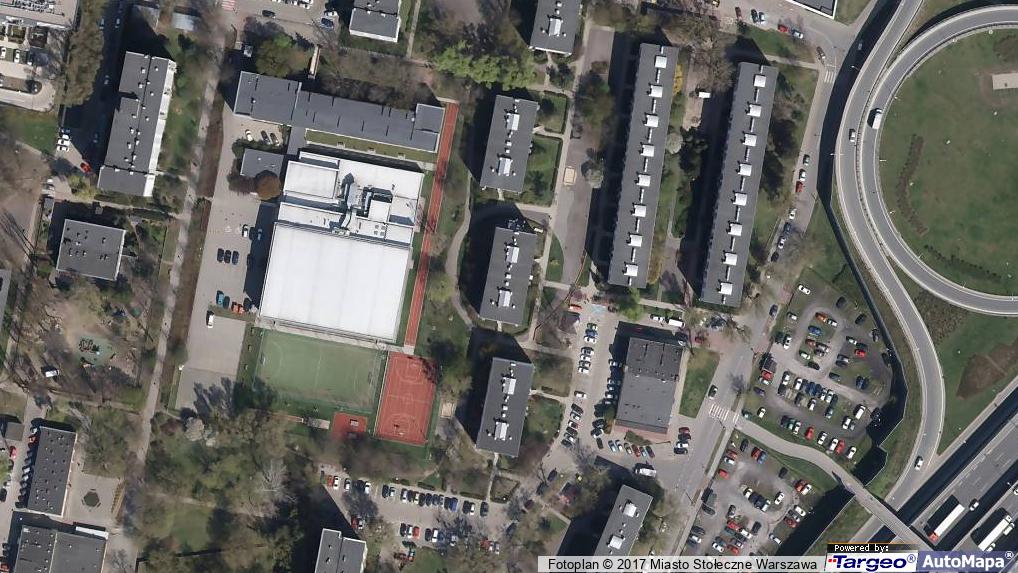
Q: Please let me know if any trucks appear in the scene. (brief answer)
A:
Yes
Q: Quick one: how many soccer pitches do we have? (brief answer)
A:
1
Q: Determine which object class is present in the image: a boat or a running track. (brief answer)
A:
running track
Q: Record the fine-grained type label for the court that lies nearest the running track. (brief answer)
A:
basketball court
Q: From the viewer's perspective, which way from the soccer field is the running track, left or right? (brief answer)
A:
to the right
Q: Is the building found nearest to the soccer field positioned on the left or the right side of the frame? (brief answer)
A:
left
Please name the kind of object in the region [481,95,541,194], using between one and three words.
building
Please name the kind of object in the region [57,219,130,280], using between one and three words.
building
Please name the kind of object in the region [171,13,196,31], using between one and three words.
shed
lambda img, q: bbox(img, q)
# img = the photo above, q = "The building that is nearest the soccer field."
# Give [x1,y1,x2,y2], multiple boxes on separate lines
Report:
[258,223,412,346]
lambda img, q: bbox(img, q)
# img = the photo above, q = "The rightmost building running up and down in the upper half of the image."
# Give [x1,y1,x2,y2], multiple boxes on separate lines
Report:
[697,62,778,306]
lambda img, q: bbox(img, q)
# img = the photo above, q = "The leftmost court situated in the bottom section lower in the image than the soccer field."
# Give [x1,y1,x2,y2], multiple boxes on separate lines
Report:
[331,414,368,442]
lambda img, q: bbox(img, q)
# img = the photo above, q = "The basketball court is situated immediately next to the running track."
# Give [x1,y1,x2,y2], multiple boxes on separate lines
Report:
[374,352,438,446]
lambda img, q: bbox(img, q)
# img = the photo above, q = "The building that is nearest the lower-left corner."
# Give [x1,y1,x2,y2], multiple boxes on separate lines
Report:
[13,523,110,573]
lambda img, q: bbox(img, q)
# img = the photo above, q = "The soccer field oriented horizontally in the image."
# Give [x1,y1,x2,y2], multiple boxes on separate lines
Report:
[253,329,388,415]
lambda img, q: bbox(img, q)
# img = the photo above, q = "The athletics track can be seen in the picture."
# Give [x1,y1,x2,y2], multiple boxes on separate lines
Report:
[402,103,458,355]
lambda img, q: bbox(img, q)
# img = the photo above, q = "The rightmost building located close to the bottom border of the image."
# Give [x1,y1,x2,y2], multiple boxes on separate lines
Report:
[586,481,653,573]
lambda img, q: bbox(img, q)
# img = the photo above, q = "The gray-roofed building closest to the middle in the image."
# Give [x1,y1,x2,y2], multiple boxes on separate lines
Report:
[480,227,537,325]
